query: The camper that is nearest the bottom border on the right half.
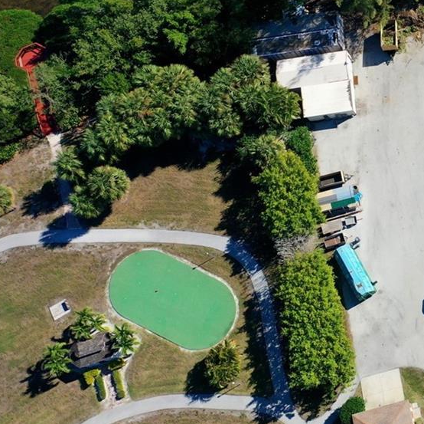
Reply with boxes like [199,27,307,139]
[332,243,375,302]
